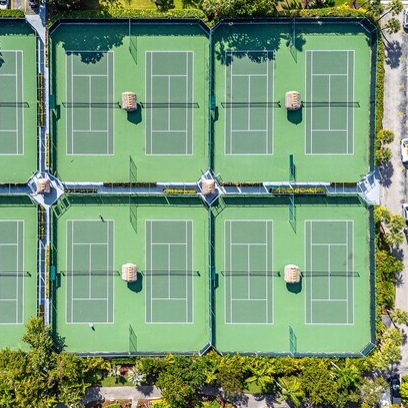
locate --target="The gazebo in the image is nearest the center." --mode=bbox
[200,178,214,193]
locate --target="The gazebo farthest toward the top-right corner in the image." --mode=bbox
[283,91,299,110]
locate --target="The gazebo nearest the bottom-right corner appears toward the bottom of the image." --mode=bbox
[282,264,299,284]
